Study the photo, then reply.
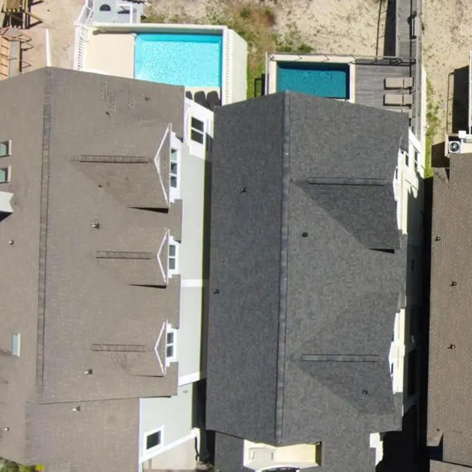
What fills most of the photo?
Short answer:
buildings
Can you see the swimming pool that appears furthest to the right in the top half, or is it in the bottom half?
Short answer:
top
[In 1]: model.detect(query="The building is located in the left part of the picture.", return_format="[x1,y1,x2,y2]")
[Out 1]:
[0,68,215,472]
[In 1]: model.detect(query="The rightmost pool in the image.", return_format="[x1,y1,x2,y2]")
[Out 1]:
[269,55,357,104]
